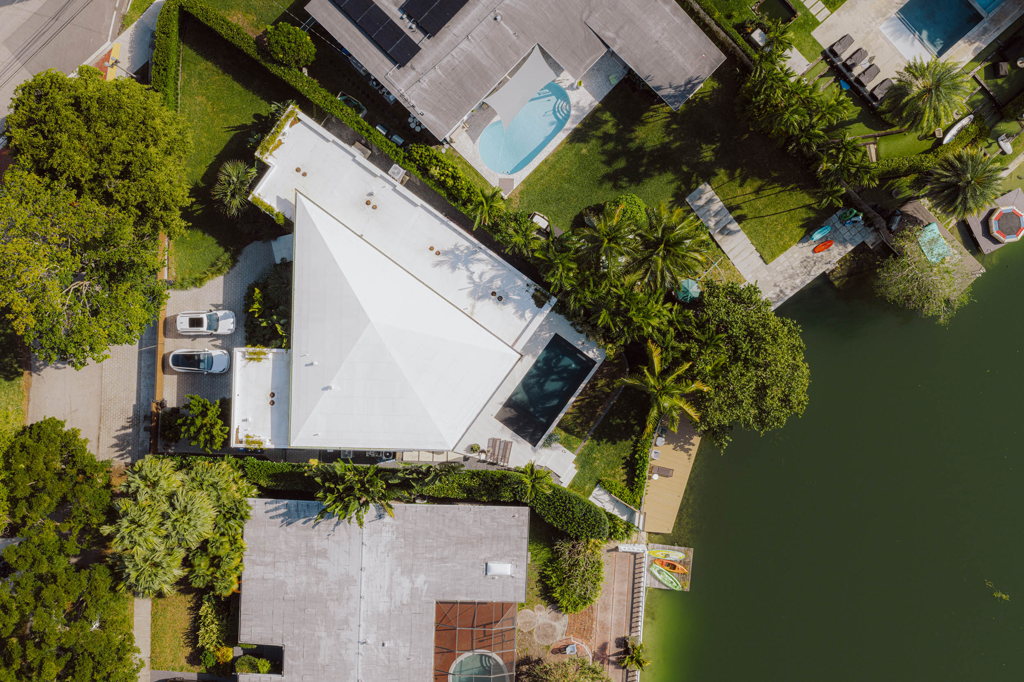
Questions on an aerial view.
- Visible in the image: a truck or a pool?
pool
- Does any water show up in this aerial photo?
Yes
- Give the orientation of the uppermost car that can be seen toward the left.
from side to side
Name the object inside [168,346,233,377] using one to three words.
car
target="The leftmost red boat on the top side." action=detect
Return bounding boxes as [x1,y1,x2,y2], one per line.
[813,240,834,253]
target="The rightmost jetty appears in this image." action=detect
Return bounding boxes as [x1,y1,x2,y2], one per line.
[965,188,1024,255]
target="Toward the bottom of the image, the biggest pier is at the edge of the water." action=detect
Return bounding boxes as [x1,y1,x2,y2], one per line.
[645,409,715,533]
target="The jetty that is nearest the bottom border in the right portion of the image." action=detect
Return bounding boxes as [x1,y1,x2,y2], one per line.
[645,543,693,591]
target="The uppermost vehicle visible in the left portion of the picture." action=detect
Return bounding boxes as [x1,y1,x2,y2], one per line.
[175,306,239,338]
